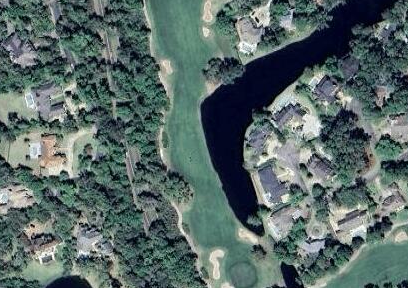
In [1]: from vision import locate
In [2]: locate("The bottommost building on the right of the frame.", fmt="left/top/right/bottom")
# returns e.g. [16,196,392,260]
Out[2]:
[299,234,328,255]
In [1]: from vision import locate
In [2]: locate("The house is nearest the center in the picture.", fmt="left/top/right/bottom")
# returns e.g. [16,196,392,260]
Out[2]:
[250,124,274,148]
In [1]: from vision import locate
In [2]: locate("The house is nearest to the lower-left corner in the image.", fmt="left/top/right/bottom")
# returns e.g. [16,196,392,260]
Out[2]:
[20,229,60,252]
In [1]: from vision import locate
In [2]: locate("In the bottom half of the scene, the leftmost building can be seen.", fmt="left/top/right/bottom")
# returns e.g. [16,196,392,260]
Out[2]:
[2,184,33,205]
